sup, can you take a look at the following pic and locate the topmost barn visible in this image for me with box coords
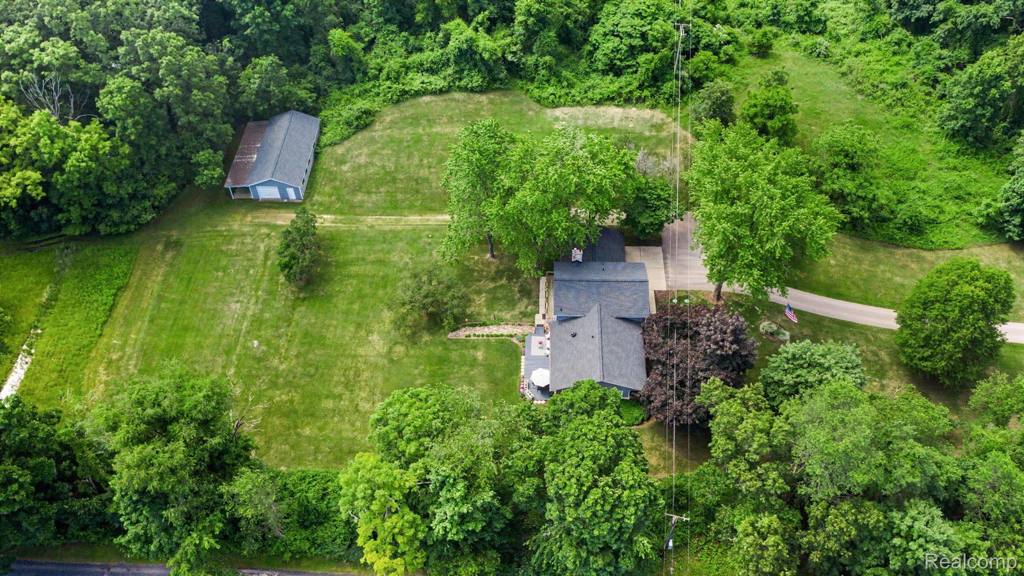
[225,111,319,201]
